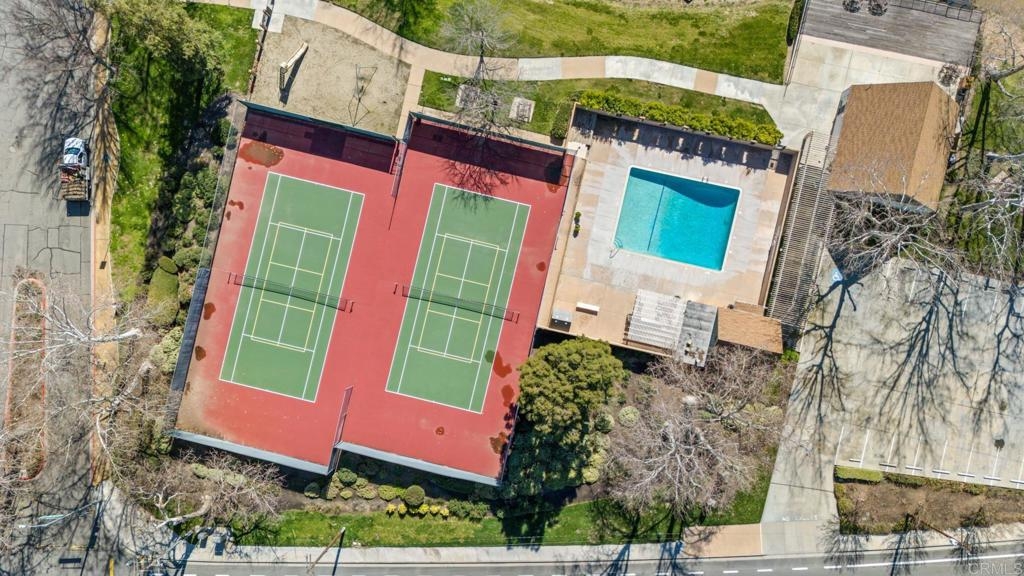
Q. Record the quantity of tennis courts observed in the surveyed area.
2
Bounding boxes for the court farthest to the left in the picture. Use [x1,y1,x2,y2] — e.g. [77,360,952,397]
[176,108,407,467]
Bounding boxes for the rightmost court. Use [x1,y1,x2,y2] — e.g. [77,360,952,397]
[336,119,569,480]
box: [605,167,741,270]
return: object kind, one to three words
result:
swimming pool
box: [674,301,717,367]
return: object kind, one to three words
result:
building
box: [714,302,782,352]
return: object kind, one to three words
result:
shed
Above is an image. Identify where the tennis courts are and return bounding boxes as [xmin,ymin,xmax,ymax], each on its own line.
[176,108,407,467]
[336,119,569,480]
